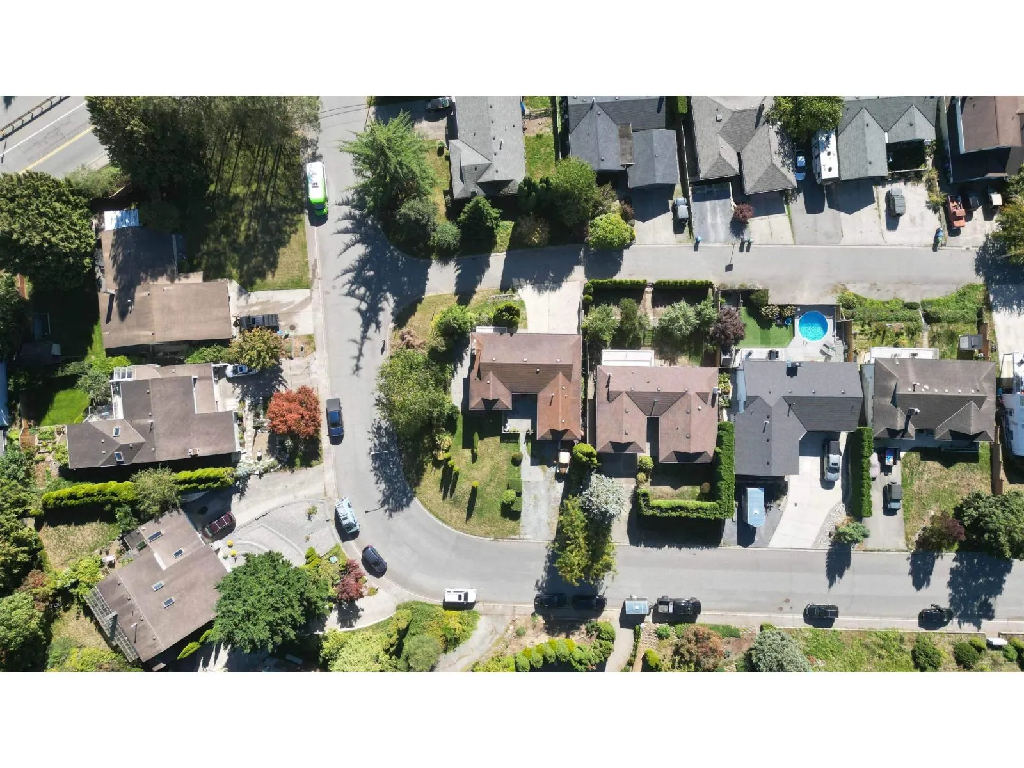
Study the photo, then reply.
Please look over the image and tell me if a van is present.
Yes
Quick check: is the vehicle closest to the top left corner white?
Yes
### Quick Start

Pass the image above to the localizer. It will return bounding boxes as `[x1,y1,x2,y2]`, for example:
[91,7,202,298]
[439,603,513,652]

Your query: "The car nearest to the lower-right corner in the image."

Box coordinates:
[915,600,951,624]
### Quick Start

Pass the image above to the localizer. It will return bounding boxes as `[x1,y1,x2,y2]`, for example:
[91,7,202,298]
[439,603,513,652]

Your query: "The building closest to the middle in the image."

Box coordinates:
[469,327,583,441]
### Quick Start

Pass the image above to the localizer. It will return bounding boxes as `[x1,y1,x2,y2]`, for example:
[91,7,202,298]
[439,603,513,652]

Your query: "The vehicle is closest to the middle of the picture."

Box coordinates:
[556,446,570,476]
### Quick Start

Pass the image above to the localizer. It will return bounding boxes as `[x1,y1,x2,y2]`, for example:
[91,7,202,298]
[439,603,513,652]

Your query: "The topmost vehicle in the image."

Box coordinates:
[421,93,454,114]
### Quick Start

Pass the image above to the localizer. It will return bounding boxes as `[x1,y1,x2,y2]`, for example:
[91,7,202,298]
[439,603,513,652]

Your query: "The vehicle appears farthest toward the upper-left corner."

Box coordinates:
[304,161,331,221]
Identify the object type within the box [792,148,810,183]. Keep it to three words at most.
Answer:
car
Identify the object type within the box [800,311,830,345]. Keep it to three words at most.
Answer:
swimming pool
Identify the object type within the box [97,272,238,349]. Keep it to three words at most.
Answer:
house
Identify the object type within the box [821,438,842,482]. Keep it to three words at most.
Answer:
truck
